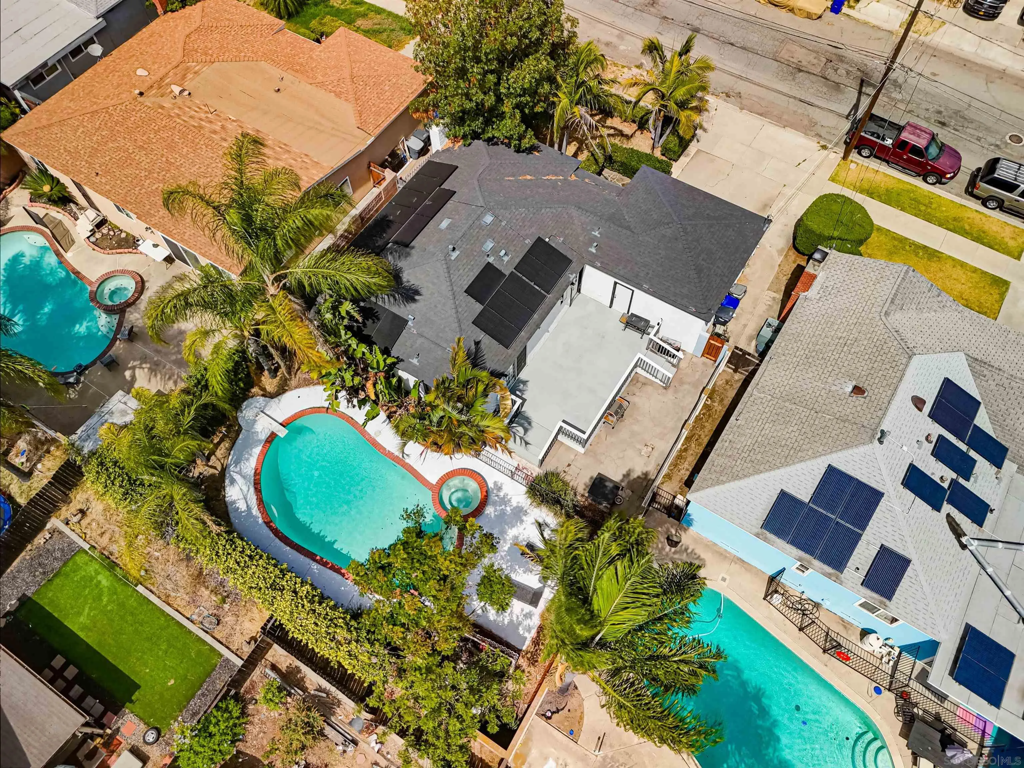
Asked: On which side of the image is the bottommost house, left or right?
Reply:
left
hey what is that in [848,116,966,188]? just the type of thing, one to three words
truck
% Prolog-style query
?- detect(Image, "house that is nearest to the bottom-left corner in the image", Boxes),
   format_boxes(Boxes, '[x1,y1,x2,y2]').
[0,636,104,768]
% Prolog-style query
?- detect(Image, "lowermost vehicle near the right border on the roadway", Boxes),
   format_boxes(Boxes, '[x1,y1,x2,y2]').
[974,162,1024,216]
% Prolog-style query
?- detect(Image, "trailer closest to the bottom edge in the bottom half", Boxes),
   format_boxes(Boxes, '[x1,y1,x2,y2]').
[588,473,637,509]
